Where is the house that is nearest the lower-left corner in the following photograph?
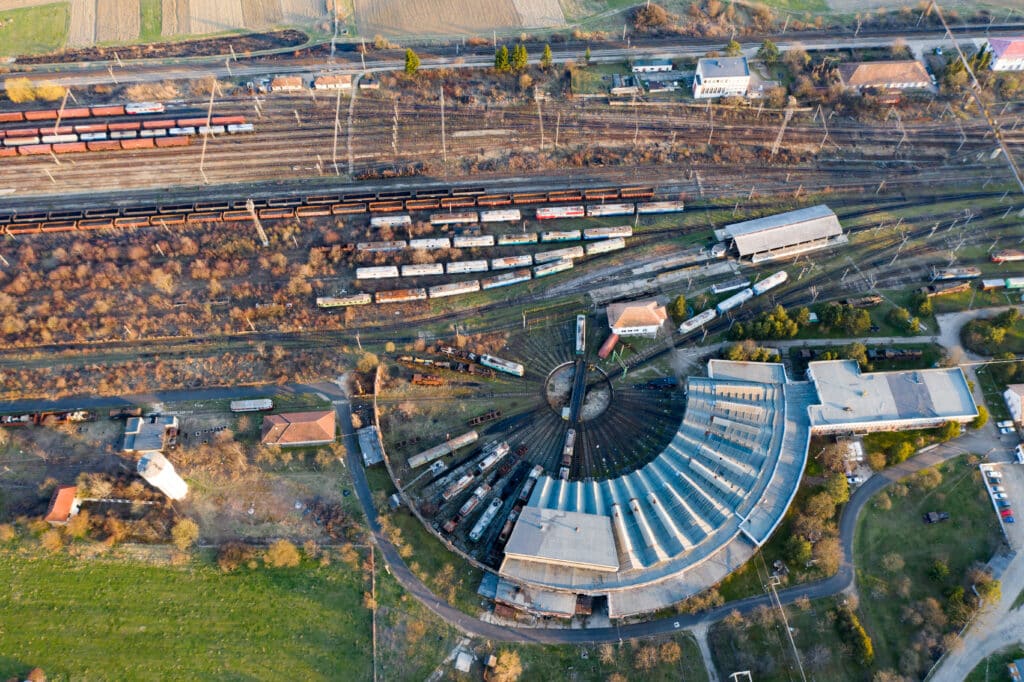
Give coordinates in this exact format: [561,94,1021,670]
[45,487,80,527]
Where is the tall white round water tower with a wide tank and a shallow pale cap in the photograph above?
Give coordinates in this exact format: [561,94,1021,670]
[134,445,191,503]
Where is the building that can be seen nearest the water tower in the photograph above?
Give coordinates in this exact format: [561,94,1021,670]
[124,417,183,456]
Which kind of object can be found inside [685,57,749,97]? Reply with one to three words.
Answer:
building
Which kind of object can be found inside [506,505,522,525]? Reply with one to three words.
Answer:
rail car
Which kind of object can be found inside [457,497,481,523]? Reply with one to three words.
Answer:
rail car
